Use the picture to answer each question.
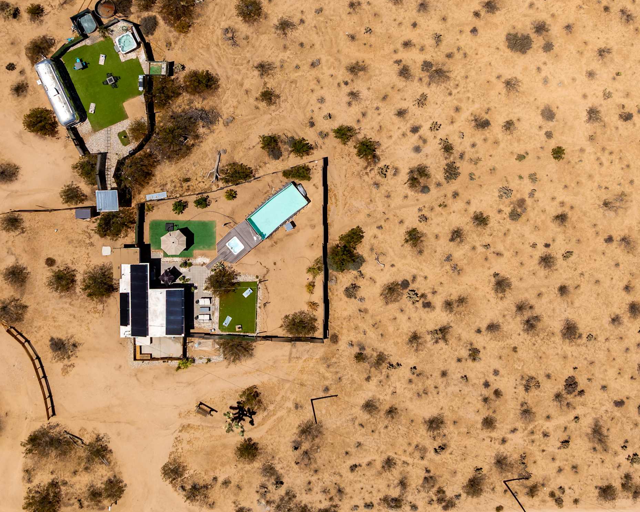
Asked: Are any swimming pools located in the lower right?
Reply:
No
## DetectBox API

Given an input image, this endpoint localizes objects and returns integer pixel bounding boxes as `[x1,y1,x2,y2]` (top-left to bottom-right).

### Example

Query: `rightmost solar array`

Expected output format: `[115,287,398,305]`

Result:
[166,290,184,335]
